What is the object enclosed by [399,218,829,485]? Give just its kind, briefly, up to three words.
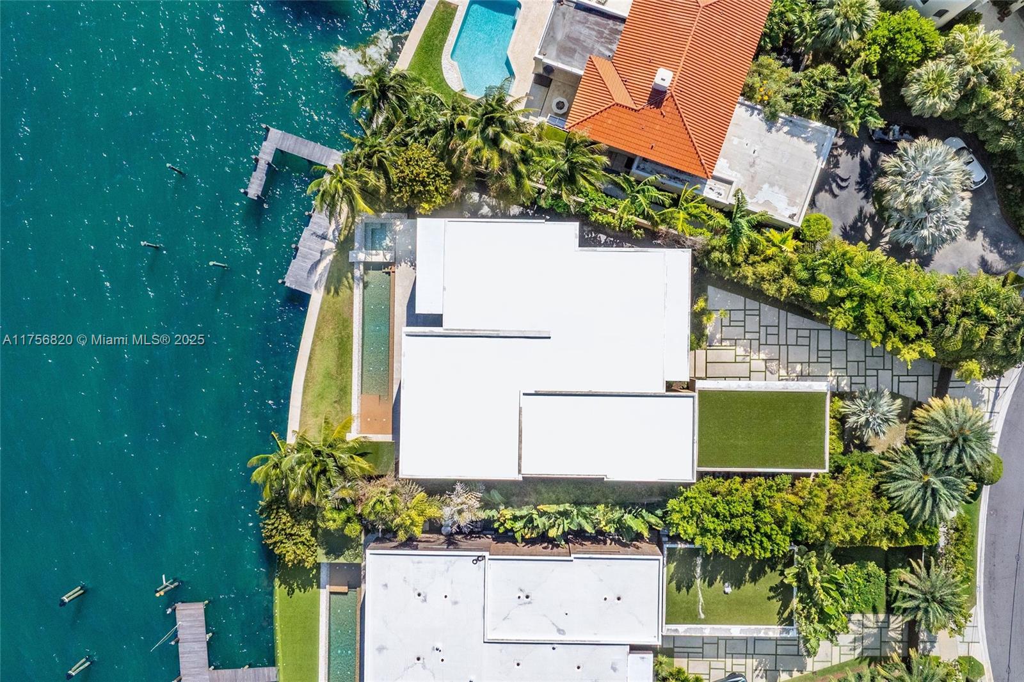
house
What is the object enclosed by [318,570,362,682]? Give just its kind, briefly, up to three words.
swimming pool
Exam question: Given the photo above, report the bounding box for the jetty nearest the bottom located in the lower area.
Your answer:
[170,593,278,682]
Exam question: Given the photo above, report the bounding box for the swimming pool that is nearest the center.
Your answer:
[347,212,408,442]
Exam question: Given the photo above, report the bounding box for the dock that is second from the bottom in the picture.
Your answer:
[278,209,338,295]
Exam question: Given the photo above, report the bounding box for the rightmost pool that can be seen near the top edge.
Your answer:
[441,0,553,106]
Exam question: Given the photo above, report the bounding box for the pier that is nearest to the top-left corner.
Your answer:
[242,126,341,202]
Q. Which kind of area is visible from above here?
residential area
